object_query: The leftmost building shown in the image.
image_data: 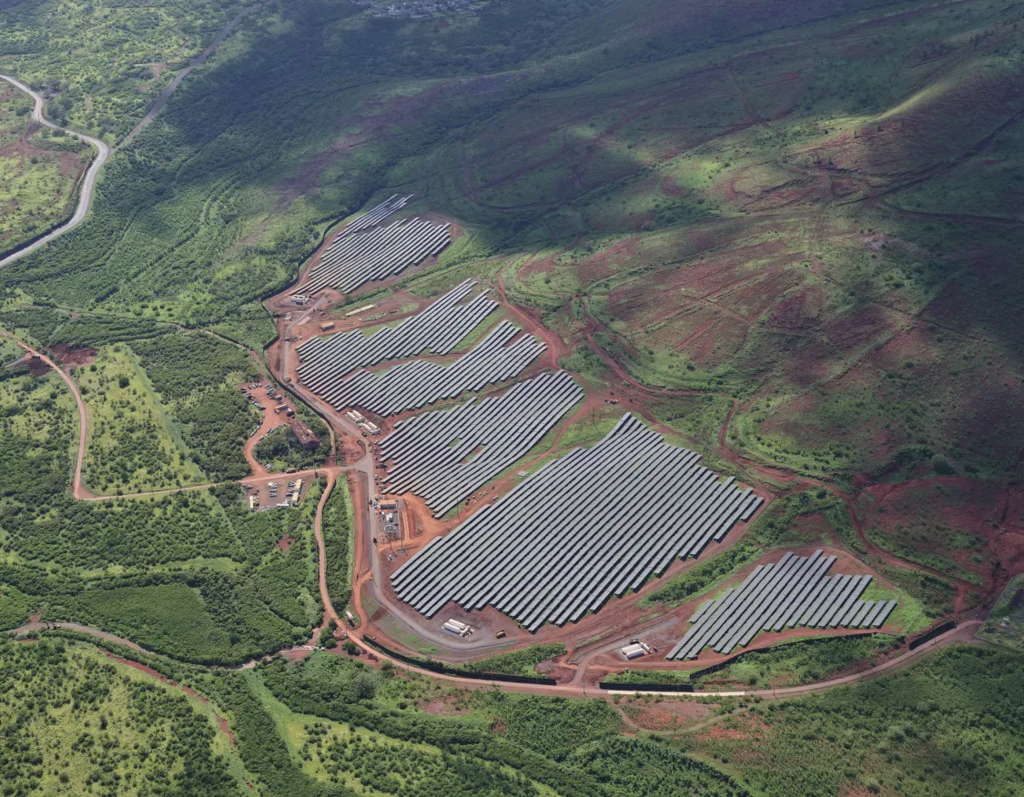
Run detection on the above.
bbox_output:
[286,413,321,445]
